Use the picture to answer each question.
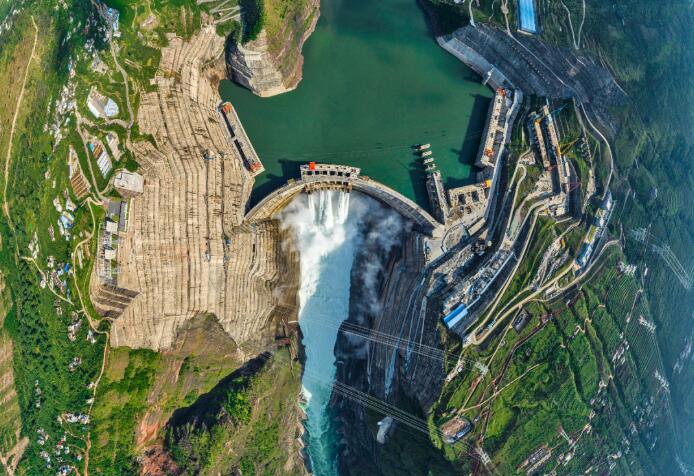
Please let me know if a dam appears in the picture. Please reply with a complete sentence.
Yes, this view includes a dam.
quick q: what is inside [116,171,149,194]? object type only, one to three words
building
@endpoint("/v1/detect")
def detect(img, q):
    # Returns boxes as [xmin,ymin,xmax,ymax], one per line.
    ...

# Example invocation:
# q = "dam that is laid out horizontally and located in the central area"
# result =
[239,166,443,243]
